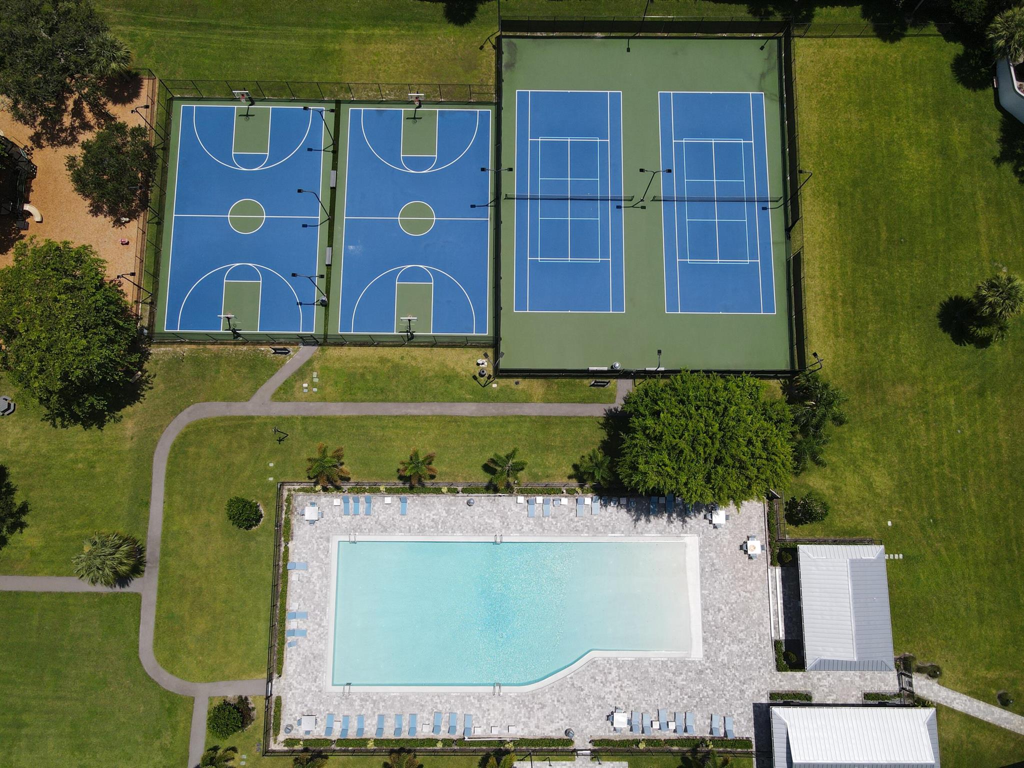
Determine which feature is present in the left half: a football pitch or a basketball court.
basketball court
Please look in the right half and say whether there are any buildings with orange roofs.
No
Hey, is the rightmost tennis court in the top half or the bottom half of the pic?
top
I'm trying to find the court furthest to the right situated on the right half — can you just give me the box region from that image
[641,38,793,369]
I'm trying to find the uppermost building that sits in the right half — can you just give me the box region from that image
[795,544,895,672]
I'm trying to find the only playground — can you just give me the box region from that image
[0,77,156,370]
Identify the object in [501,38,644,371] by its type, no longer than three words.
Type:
tennis court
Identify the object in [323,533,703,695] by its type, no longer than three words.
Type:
swimming pool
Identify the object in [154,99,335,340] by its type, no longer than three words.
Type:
basketball court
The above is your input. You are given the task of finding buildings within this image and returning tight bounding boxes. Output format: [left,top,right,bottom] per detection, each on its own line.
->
[769,706,941,768]
[795,544,895,672]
